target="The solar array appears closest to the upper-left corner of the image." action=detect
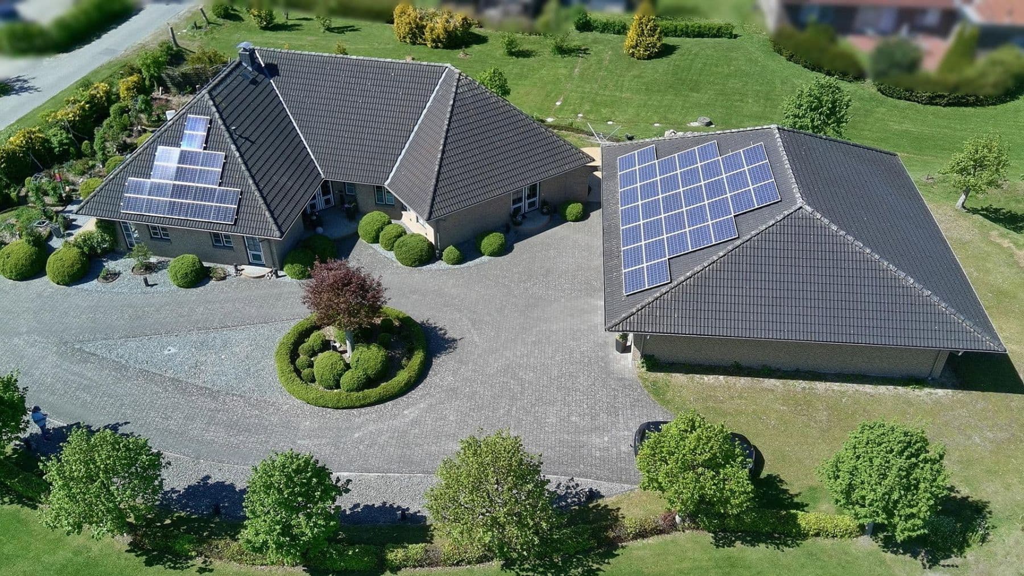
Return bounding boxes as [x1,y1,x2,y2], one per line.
[120,115,242,224]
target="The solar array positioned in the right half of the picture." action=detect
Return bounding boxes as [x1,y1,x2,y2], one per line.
[618,141,780,295]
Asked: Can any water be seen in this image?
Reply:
No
